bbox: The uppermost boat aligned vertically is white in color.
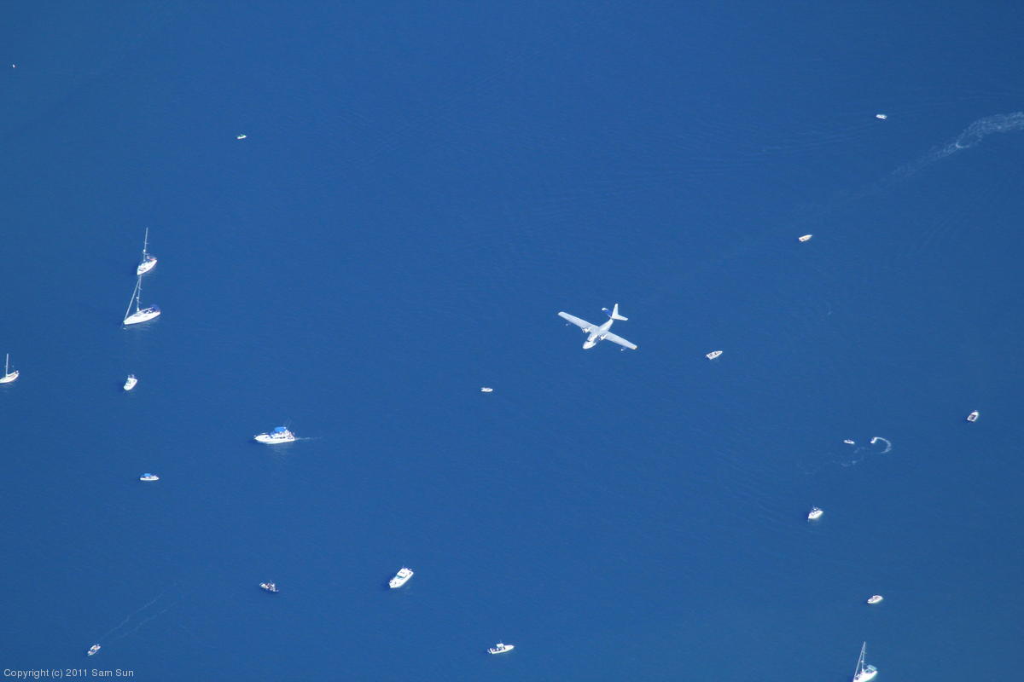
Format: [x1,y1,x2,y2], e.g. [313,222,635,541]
[137,227,156,275]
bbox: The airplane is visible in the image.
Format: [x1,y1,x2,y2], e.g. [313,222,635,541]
[559,305,637,352]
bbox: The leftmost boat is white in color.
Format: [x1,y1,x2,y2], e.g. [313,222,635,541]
[0,354,20,382]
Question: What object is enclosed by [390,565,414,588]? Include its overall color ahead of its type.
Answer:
white boat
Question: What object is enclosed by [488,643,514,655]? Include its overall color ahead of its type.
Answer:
white boat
